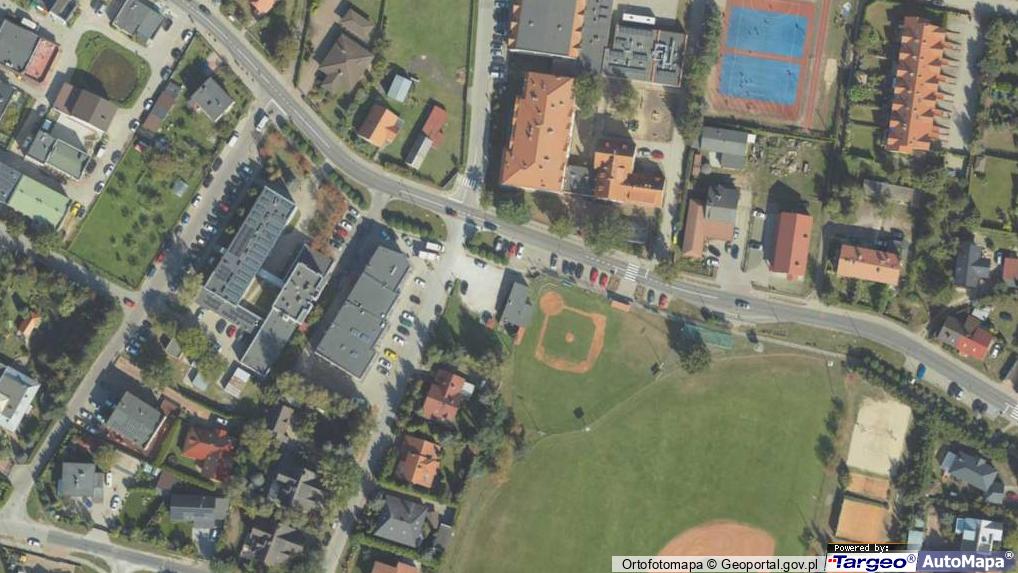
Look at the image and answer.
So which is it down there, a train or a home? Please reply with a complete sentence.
Looking from above, you can make out a home.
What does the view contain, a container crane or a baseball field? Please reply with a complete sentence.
I can see a baseball field in this picture.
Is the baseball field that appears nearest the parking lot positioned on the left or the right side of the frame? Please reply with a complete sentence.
The baseball field that appears nearest the parking lot is on the right side of the image.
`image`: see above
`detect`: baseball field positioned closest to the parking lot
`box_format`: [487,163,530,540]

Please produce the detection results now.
[501,285,845,468]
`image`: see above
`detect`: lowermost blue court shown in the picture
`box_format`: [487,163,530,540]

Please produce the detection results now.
[720,54,800,104]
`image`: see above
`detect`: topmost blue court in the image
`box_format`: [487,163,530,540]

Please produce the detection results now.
[728,7,808,57]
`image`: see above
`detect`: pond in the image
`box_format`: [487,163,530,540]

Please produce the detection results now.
[91,49,138,98]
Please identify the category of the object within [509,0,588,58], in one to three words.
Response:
building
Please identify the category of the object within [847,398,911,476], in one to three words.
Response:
sports court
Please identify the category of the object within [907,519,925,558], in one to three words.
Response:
shed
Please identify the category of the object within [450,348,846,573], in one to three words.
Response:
baseball field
